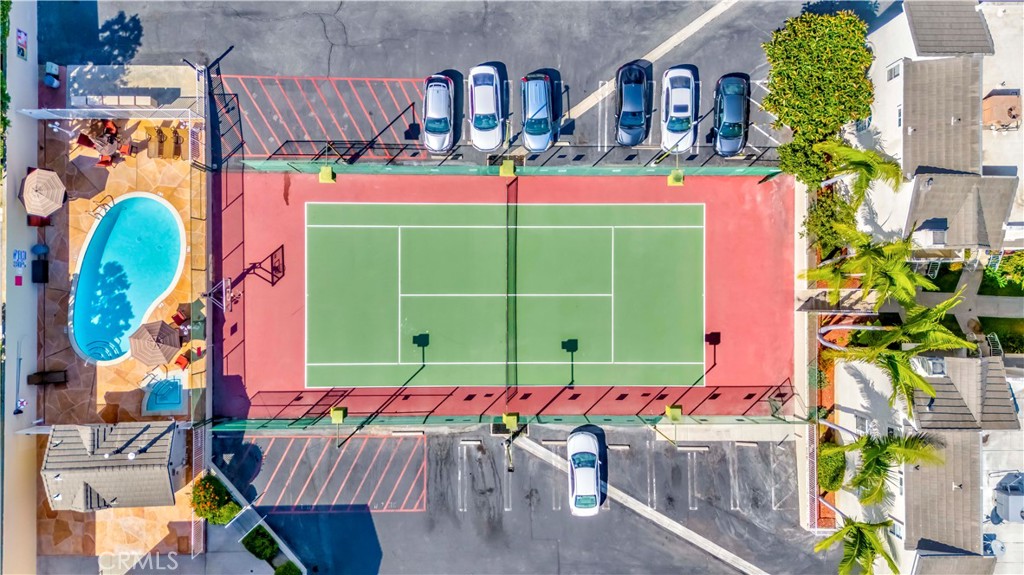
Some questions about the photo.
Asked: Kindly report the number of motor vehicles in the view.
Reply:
7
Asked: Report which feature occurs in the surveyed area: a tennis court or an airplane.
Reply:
tennis court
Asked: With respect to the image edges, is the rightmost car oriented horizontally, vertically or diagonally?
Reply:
vertically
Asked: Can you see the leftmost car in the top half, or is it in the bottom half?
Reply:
top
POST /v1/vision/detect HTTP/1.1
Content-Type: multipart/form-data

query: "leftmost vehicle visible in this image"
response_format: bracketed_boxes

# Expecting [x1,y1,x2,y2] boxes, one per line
[419,75,456,154]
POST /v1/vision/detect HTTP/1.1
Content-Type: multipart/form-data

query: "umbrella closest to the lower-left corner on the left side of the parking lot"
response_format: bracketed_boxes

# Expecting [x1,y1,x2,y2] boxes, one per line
[130,318,180,368]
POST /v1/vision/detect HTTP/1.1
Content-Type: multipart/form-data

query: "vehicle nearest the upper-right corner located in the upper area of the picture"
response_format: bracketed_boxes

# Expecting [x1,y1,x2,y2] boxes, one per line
[712,75,750,157]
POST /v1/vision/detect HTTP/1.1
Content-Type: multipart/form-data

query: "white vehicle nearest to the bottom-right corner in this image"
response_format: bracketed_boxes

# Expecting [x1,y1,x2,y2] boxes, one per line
[565,431,603,514]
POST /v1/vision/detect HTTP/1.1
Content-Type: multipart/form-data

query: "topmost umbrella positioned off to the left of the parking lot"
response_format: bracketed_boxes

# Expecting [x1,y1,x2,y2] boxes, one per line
[22,170,71,215]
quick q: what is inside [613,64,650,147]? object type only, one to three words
car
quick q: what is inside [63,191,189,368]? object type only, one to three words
swimming pool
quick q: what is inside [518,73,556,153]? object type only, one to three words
car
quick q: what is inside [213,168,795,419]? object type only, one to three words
tennis court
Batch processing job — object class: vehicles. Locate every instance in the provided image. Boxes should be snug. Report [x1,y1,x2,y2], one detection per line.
[613,64,650,147]
[659,70,697,153]
[467,66,505,152]
[712,75,750,157]
[518,73,556,153]
[565,431,603,514]
[419,75,456,154]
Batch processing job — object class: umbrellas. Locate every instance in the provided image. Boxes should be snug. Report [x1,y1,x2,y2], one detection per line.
[22,170,71,215]
[130,318,180,368]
